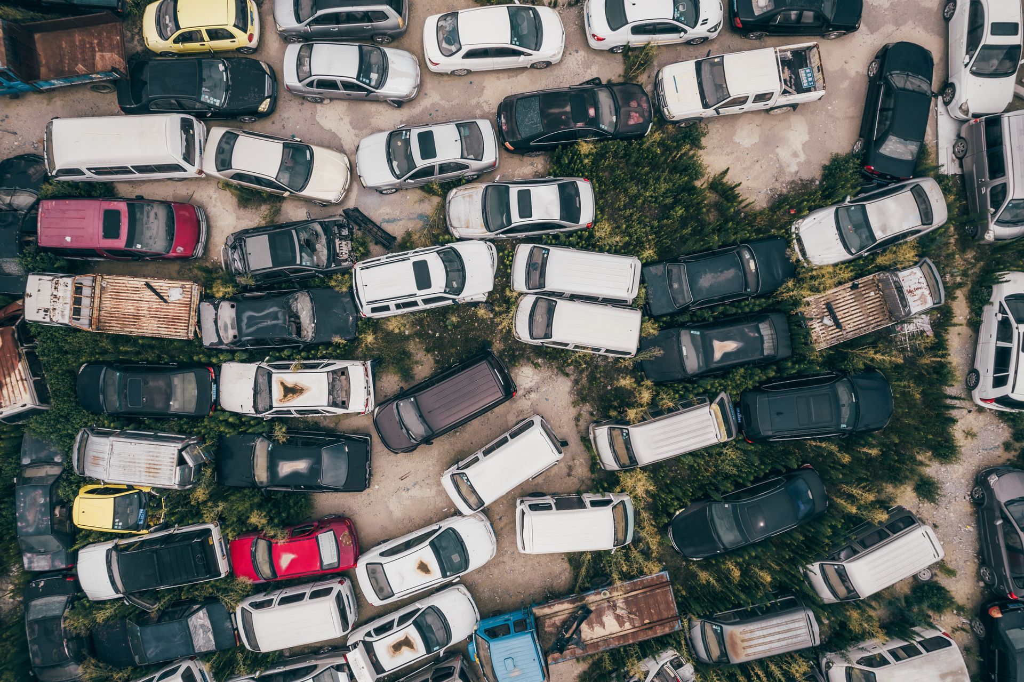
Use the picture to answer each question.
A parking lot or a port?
parking lot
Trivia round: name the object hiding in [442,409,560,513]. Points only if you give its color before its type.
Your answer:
white van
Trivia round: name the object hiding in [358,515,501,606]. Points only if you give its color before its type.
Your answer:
white car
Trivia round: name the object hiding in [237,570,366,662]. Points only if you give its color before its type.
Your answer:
white van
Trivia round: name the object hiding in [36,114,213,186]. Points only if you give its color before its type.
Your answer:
white vehicle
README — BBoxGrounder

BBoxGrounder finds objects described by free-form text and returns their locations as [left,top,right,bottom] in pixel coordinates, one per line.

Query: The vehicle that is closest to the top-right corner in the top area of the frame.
[940,0,1024,123]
